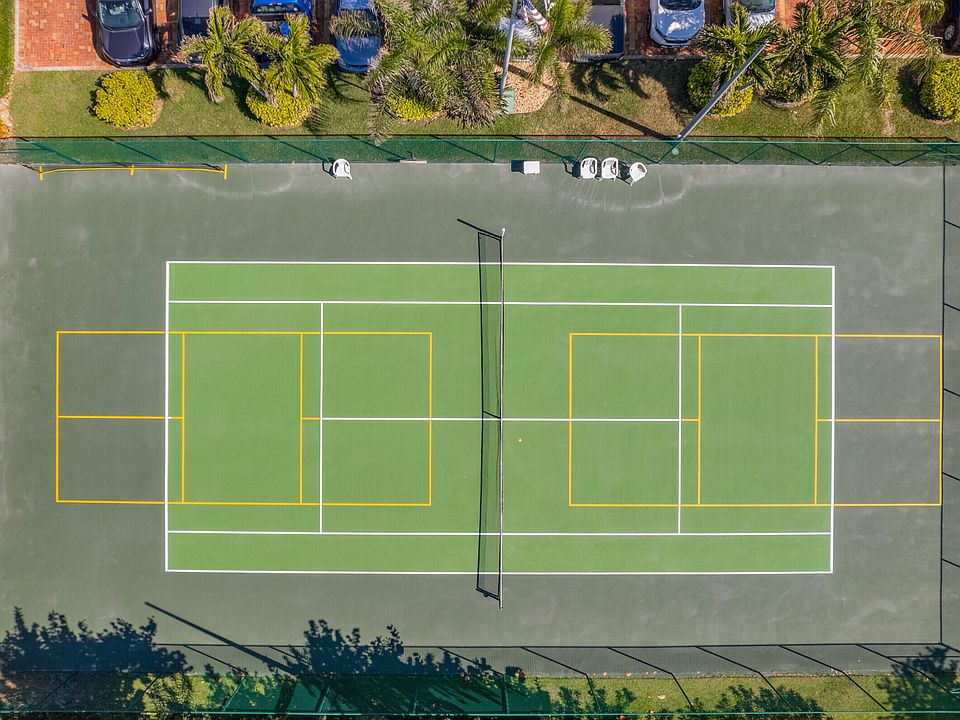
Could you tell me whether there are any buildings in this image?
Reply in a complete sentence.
No, the photo shows no building.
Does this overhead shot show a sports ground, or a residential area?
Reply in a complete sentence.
This looks like a sports ground.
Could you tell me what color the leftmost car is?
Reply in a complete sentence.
From above, the leftmost car appears black.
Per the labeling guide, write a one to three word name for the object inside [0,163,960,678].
tennis court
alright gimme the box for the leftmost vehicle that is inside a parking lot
[86,0,157,67]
